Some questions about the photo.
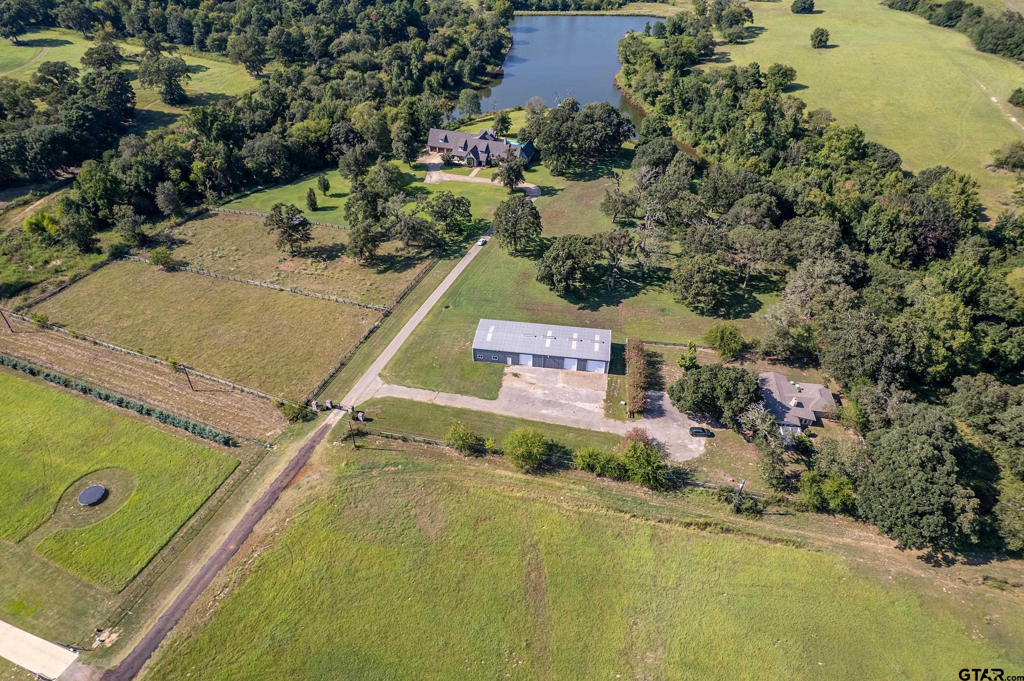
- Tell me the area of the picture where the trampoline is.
bottom left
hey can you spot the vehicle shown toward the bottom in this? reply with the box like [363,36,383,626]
[690,426,712,438]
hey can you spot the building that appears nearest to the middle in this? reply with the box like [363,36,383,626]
[472,318,612,374]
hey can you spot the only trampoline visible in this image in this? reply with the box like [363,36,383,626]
[77,485,106,507]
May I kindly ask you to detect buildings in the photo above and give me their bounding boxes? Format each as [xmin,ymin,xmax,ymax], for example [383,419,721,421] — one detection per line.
[428,124,538,168]
[472,318,612,374]
[758,375,837,432]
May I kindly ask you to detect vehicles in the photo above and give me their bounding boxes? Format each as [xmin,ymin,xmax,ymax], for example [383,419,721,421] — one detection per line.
[475,236,485,245]
[690,426,712,438]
